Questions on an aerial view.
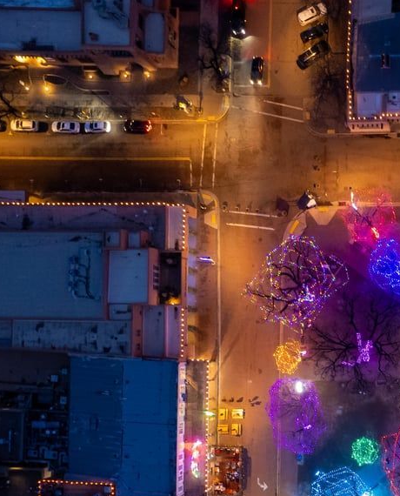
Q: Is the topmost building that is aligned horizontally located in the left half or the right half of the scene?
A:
left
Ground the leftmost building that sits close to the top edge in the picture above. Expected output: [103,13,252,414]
[0,0,196,82]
